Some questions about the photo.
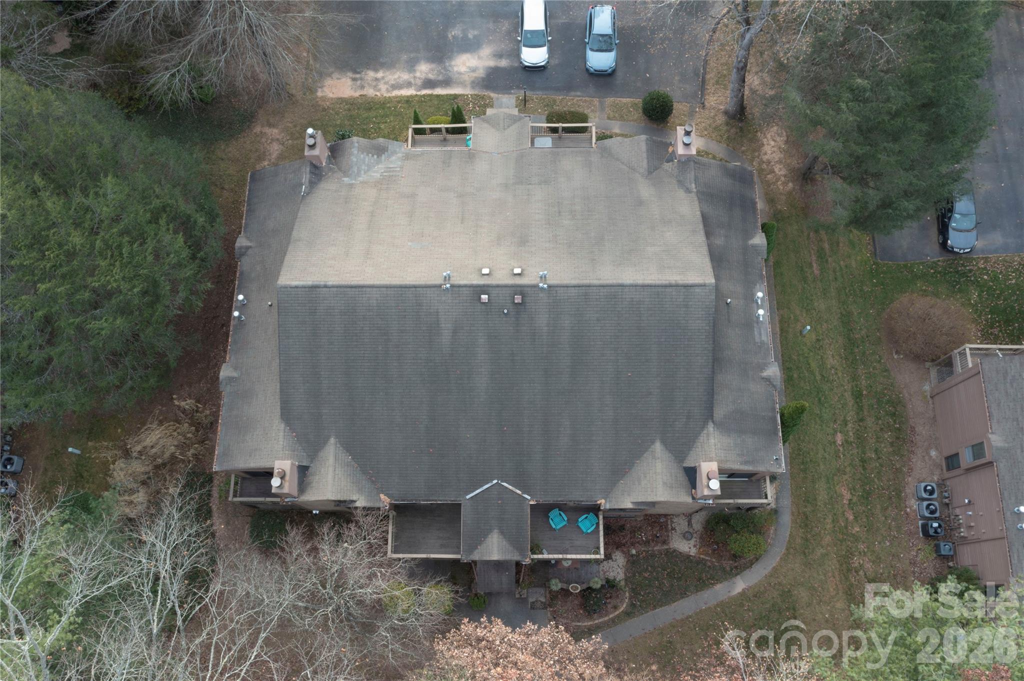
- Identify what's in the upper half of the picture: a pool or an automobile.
automobile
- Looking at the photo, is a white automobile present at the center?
No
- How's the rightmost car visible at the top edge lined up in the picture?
vertically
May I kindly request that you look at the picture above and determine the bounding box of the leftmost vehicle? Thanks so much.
[516,0,553,73]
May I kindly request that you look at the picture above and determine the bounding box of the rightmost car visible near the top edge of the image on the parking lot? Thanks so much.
[583,3,620,78]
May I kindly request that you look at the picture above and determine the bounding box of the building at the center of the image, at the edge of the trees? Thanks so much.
[212,111,788,581]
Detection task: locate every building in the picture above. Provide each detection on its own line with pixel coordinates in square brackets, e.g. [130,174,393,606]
[925,324,1024,681]
[212,111,788,581]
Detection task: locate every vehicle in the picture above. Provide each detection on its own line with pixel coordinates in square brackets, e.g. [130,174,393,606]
[516,0,553,73]
[932,174,983,255]
[583,3,620,78]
